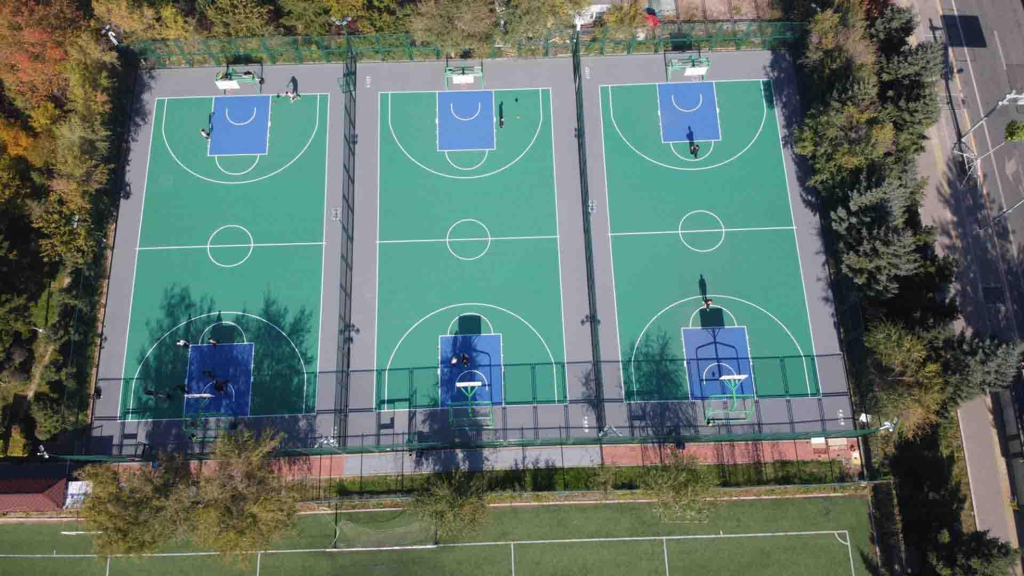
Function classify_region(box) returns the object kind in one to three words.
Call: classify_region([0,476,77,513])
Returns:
building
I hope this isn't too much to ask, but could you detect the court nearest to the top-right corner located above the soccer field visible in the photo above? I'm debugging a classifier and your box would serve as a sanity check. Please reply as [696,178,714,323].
[599,81,820,403]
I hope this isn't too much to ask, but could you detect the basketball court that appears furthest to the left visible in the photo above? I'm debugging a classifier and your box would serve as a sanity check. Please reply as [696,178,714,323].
[117,93,329,421]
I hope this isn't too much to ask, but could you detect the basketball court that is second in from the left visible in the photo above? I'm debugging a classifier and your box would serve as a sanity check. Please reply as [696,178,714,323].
[373,87,570,412]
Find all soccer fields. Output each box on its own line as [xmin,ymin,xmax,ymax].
[0,494,884,576]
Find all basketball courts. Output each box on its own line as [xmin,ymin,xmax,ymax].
[117,93,329,421]
[599,81,820,403]
[373,87,570,412]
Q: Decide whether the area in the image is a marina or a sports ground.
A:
sports ground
